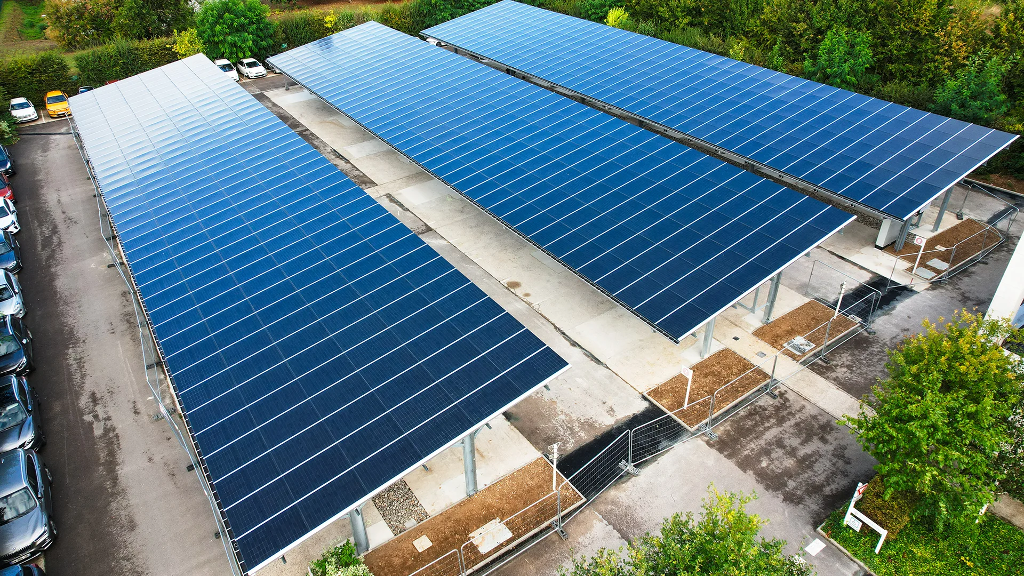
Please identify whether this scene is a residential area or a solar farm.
solar farm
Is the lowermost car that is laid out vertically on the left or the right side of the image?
left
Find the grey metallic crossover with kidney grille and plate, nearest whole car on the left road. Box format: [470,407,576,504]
[0,446,57,572]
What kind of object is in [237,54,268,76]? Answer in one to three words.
car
